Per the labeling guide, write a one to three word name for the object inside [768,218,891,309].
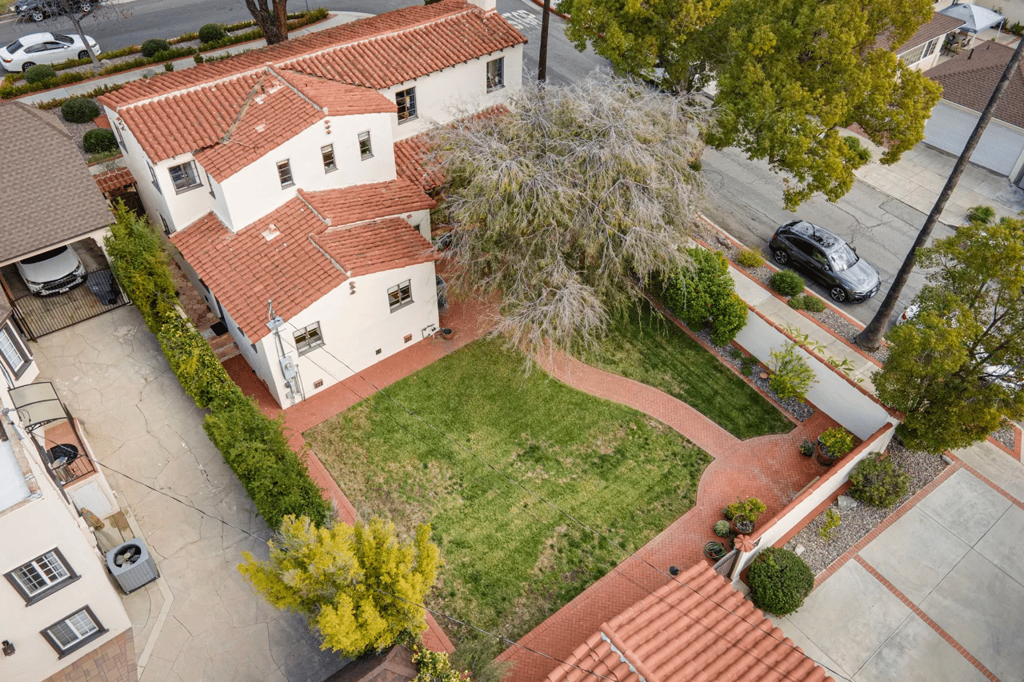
car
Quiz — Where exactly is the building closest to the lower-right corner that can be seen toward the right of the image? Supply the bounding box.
[540,560,836,682]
